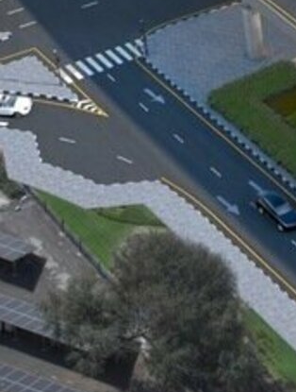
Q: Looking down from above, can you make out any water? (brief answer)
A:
No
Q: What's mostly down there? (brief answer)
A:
paved ground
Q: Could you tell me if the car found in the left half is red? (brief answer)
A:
No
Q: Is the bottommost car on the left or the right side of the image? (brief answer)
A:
right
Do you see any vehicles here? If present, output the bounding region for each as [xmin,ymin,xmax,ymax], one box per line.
[0,94,38,118]
[258,193,296,230]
